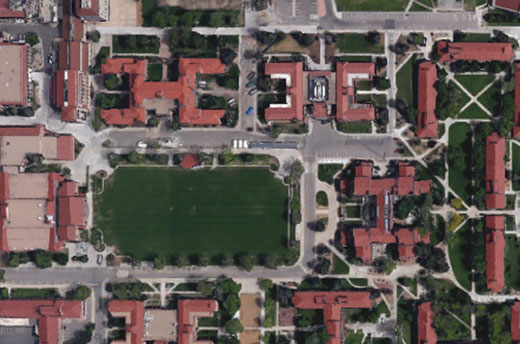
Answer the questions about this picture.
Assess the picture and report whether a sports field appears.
Yes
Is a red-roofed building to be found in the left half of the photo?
Yes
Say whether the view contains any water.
No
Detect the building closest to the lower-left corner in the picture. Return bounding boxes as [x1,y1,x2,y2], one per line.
[0,300,88,344]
